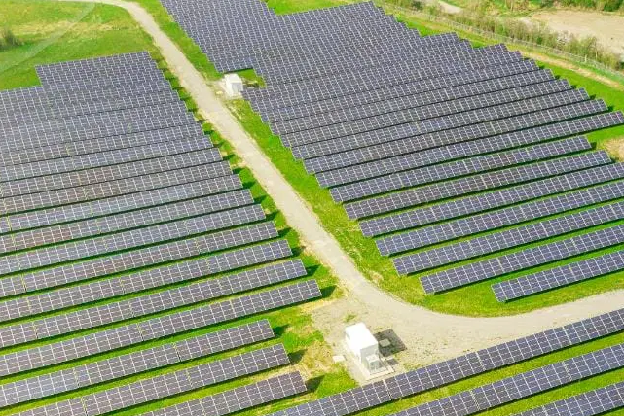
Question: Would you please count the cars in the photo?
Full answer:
No cars are visible.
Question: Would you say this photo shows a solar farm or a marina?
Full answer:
This looks like a solar farm.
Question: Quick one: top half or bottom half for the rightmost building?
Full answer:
The rightmost building sits in the bottom half of the picture.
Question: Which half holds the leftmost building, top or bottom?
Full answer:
Seen from above, the leftmost building lies in the top half of the view.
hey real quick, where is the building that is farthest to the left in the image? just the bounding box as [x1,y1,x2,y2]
[224,73,245,96]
